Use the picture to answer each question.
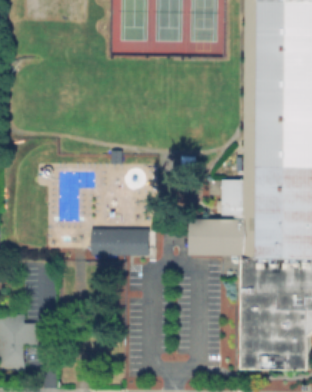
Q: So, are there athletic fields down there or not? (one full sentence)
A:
Yes, there is an athletic field in the image.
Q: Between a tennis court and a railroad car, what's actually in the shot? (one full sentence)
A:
This aerial view contains a tennis court.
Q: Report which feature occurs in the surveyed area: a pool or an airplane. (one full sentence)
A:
It is a pool that can be seen here.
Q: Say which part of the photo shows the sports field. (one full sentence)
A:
The sports field sits in the top section of the image.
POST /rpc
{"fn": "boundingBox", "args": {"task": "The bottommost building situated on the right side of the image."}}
[242,260,312,370]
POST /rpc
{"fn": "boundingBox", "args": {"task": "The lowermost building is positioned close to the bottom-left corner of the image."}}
[0,320,37,370]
